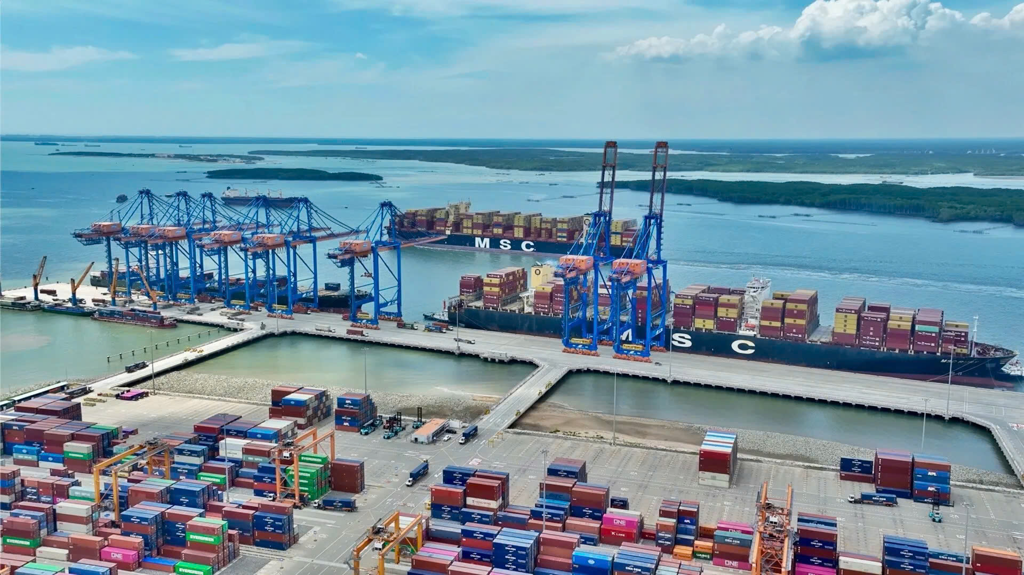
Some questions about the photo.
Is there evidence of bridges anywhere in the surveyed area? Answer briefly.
Yes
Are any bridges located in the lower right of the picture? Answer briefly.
Yes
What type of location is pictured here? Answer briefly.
port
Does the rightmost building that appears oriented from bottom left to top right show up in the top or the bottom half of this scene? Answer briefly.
bottom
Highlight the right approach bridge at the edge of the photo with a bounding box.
[989,421,1024,480]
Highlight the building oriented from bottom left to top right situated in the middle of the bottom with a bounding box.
[407,411,454,441]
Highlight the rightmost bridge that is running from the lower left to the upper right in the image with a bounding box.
[465,364,570,427]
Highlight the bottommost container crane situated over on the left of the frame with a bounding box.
[342,508,427,575]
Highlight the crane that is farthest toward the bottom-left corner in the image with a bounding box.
[90,439,172,520]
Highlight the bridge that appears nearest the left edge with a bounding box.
[90,329,280,388]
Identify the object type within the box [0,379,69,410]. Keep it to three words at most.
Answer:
shed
